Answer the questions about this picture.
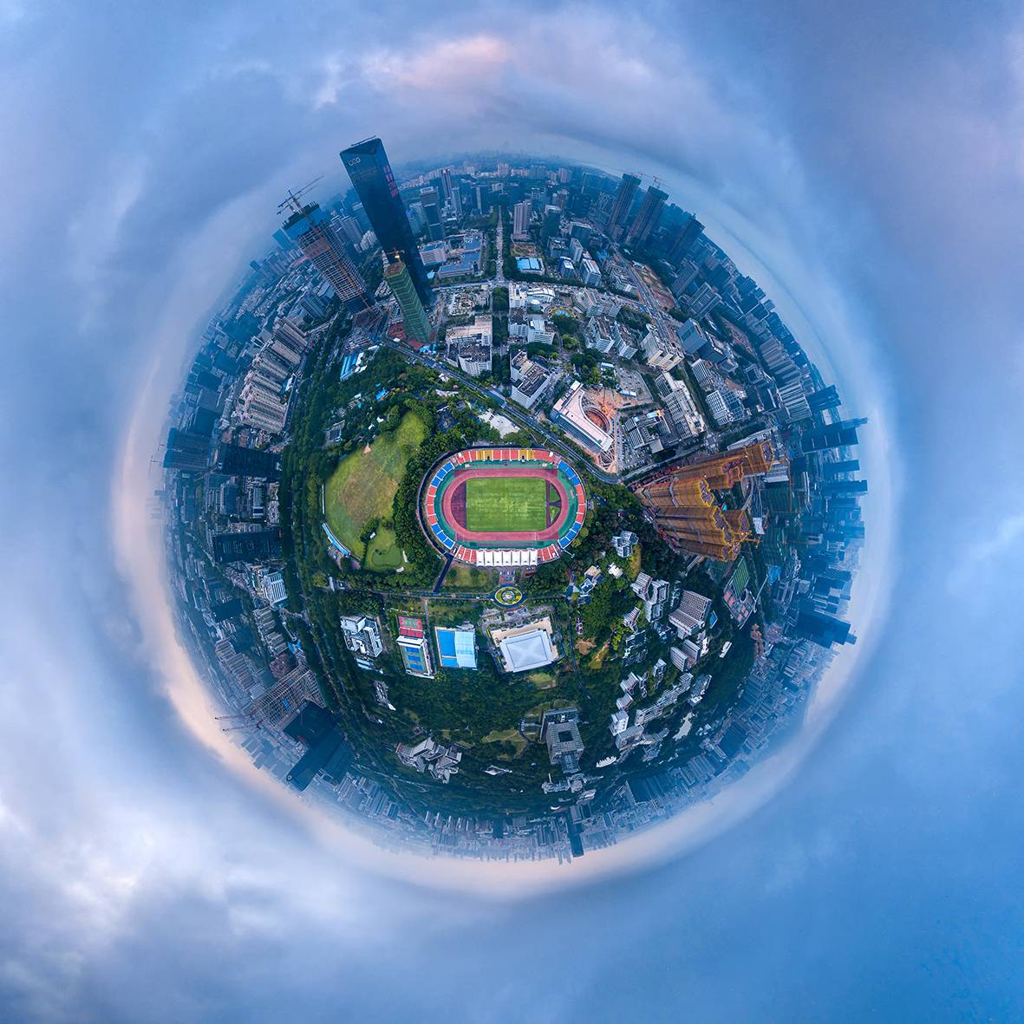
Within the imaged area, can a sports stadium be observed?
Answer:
Yes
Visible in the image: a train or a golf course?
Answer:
golf course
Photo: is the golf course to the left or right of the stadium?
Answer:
to its left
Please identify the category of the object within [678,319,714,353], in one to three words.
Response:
building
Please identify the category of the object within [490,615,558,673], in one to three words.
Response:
building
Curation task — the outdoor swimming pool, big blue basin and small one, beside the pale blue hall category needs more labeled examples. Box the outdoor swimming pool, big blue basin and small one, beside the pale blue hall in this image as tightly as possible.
[435,627,460,668]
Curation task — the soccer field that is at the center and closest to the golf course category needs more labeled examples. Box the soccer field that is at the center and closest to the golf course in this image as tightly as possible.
[468,479,545,531]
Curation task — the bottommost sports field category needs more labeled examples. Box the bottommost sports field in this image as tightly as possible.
[722,563,761,629]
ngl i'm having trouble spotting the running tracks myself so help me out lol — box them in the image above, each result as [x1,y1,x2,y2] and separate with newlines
[446,470,567,539]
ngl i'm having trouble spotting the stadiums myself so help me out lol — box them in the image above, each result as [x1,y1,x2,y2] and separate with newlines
[427,447,586,567]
